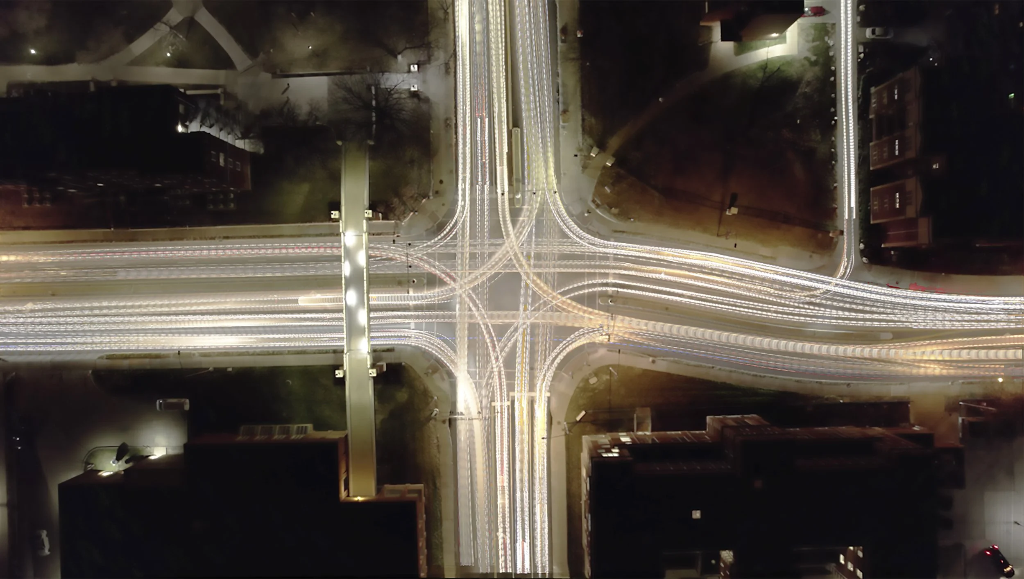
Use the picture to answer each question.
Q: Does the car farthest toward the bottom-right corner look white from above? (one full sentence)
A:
No, the car farthest toward the bottom-right corner is actually black.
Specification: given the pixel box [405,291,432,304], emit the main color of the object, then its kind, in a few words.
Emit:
white vehicle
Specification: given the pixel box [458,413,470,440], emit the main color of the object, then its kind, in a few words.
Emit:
white vehicle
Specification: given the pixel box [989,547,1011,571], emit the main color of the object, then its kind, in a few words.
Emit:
black car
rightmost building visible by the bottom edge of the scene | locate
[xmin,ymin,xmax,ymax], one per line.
[583,415,989,579]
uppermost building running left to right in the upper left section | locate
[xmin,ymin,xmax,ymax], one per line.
[0,86,196,127]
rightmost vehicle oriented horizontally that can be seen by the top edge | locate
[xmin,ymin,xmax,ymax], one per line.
[865,26,892,38]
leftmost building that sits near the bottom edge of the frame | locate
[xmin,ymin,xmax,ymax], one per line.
[58,430,426,579]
